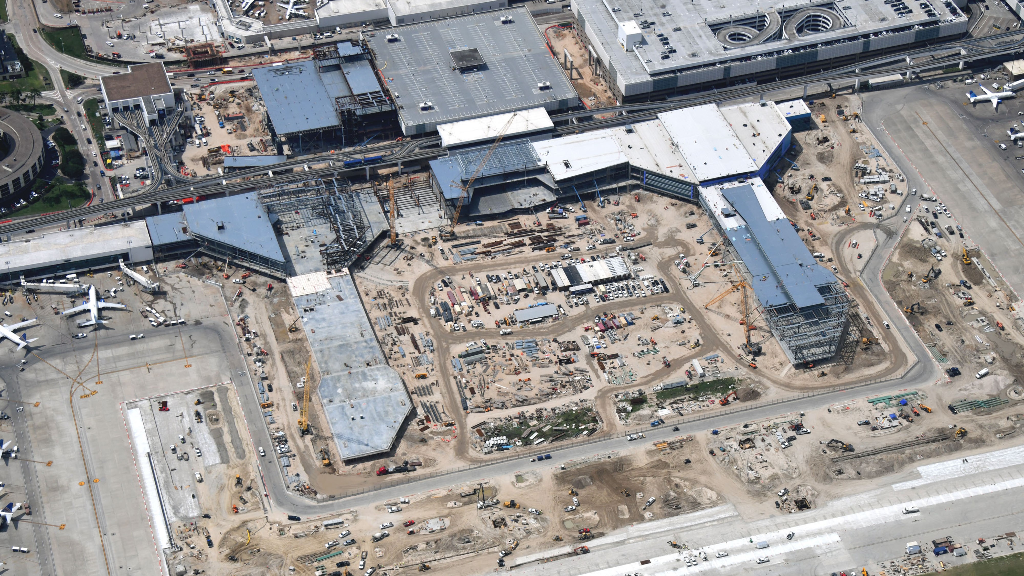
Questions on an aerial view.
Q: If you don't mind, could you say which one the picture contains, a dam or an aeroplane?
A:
aeroplane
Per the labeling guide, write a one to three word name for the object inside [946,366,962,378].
vehicle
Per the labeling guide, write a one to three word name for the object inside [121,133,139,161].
shed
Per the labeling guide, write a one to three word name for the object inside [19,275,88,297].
jet bridge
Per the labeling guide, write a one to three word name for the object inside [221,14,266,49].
building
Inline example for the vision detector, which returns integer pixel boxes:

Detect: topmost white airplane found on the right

[963,79,1015,106]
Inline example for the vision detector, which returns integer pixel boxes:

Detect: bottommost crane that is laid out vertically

[295,354,315,441]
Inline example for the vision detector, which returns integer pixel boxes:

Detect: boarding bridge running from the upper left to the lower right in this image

[118,258,157,292]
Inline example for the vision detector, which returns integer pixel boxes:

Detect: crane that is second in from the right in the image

[431,114,517,242]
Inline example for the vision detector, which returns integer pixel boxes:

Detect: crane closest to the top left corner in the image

[383,178,405,250]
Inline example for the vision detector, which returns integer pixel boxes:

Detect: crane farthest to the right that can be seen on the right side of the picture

[705,278,761,356]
